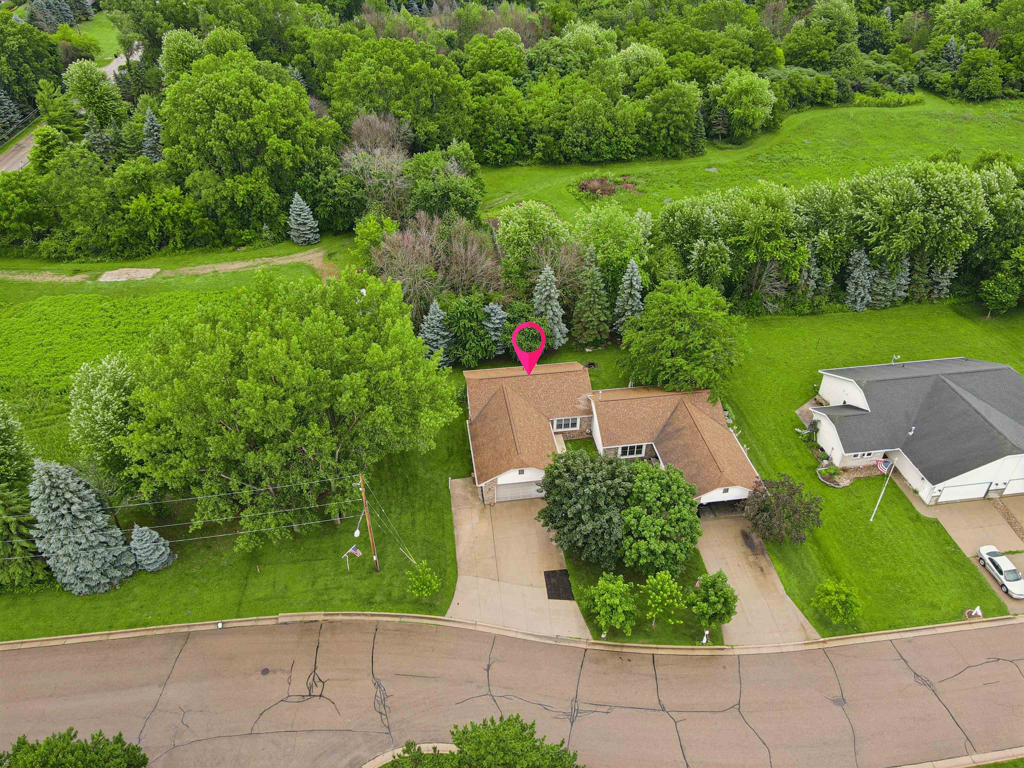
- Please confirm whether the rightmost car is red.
No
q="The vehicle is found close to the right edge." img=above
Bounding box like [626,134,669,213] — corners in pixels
[978,545,1024,596]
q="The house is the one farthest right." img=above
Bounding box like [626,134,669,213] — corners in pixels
[809,357,1024,506]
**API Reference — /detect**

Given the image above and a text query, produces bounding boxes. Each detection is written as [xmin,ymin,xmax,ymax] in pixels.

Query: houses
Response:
[463,362,769,527]
[809,357,1024,506]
